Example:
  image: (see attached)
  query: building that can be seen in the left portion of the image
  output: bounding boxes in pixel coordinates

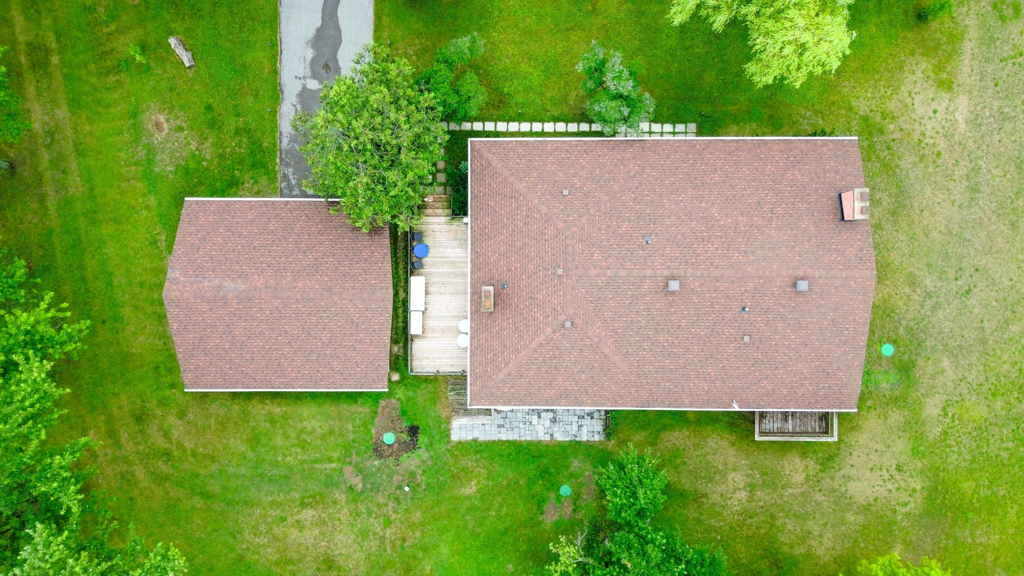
[162,198,394,391]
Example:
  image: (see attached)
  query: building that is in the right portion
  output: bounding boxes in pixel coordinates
[467,137,877,412]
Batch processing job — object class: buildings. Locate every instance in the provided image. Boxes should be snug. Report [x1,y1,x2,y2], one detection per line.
[467,137,877,412]
[162,198,394,391]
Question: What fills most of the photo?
grass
